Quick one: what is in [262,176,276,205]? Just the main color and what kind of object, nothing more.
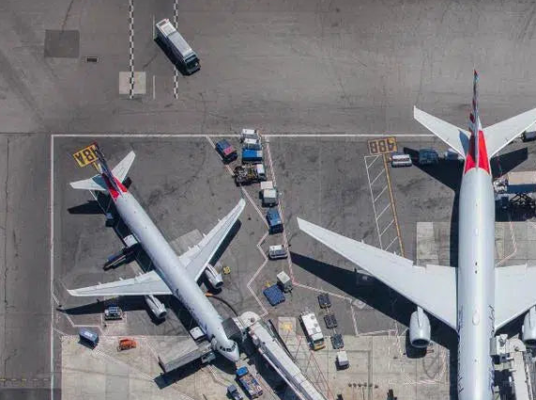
white vehicle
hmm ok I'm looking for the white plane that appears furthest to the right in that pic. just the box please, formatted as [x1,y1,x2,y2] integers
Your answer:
[296,74,536,400]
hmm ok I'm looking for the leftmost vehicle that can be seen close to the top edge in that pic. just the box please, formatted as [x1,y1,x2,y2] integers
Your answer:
[155,18,199,78]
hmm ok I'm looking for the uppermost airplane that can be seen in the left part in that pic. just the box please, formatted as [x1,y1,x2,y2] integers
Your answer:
[63,147,244,360]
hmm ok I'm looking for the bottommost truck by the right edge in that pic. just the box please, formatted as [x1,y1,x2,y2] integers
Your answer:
[493,175,536,209]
